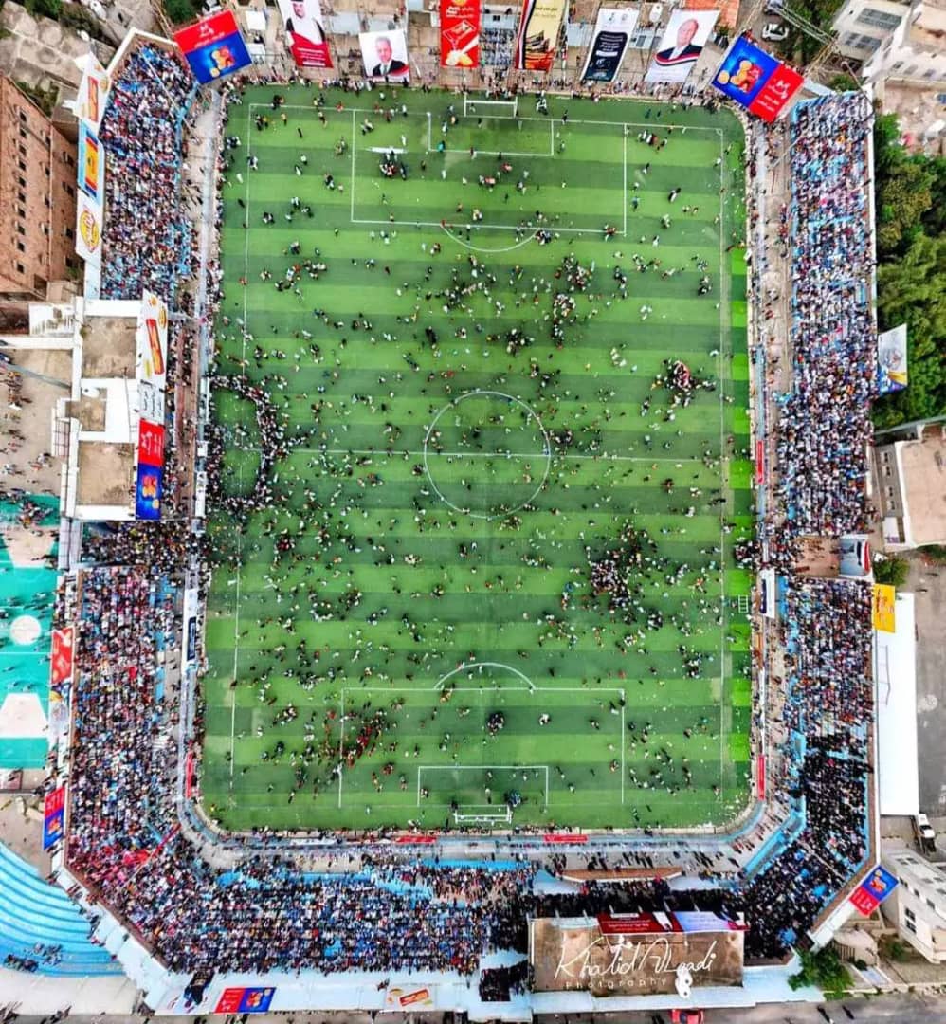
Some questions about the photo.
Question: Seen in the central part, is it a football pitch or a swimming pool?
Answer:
football pitch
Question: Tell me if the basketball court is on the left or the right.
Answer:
left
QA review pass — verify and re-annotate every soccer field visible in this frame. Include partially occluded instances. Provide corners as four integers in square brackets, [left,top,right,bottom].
[200,85,752,832]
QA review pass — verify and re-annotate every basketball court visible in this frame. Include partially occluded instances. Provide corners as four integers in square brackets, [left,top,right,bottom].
[0,493,60,768]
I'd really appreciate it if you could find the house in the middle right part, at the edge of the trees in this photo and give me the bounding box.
[865,425,946,552]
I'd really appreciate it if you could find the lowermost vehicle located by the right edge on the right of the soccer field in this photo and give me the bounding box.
[915,813,945,855]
